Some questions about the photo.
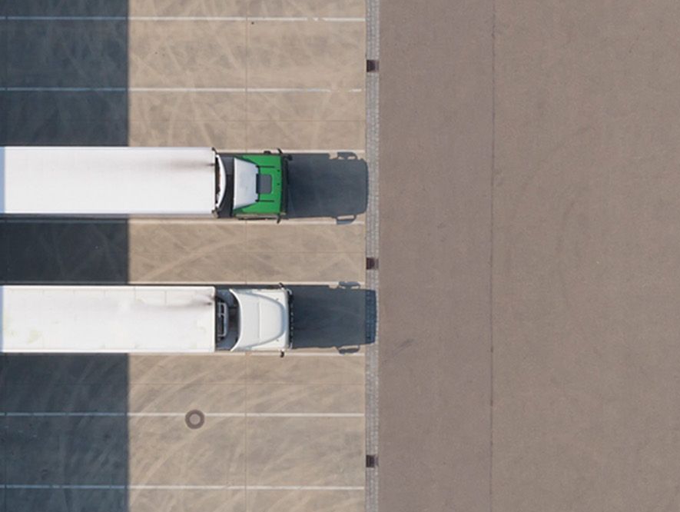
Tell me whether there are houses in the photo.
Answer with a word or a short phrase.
No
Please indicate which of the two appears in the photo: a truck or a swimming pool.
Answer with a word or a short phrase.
truck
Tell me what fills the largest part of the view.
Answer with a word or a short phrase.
paved ground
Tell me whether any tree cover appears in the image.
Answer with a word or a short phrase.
No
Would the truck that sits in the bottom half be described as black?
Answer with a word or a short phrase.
No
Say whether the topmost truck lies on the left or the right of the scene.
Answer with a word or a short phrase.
left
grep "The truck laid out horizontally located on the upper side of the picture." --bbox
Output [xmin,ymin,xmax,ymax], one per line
[0,145,293,222]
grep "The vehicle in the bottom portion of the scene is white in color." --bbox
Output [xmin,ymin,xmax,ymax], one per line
[0,281,293,358]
